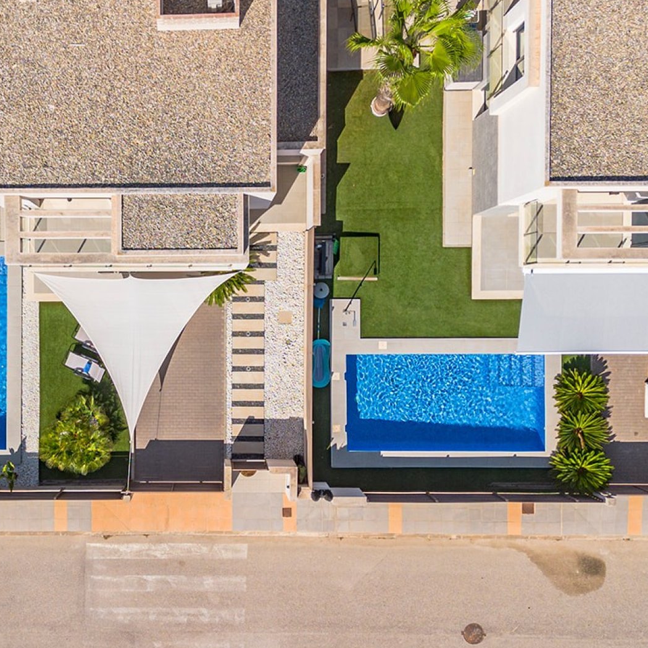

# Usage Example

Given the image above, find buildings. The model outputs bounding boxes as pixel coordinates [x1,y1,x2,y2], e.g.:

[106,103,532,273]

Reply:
[472,0,648,268]
[0,0,329,274]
